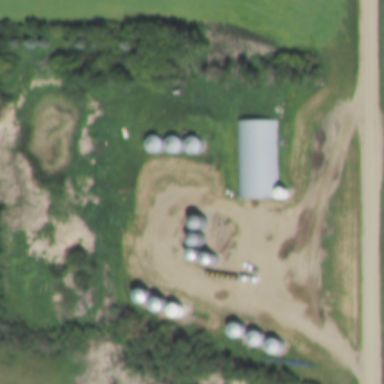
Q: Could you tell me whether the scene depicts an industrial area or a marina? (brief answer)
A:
industrial area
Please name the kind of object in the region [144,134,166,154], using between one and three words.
silo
